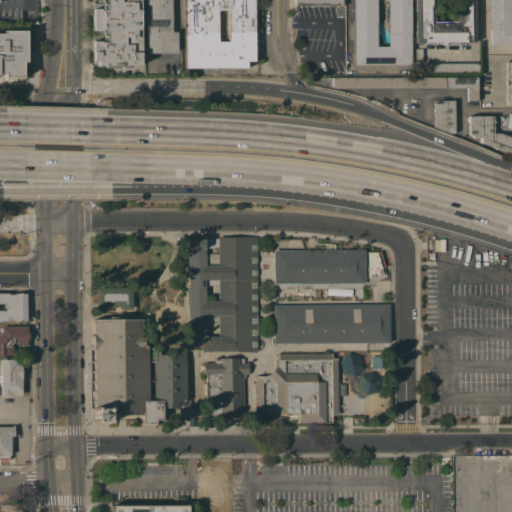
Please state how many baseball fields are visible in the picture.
none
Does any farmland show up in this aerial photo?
No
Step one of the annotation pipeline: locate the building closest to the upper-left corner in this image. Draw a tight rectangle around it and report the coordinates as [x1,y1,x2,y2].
[0,31,30,78]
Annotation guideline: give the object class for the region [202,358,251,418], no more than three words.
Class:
house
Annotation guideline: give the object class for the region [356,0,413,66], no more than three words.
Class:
building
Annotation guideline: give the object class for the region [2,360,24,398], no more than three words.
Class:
house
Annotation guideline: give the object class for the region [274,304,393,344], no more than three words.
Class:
building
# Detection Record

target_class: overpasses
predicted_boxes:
[0,106,512,254]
